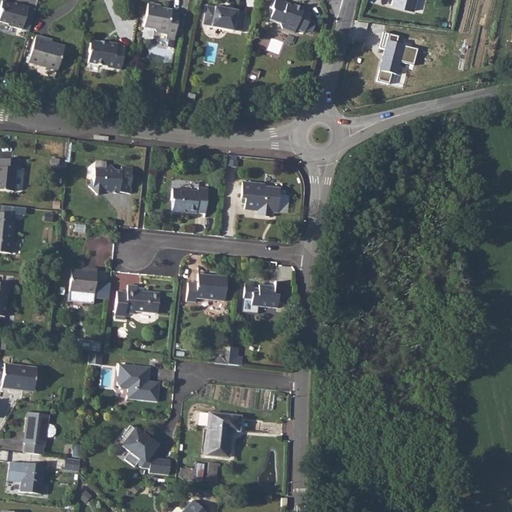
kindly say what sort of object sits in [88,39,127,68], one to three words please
house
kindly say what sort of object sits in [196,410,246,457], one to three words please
house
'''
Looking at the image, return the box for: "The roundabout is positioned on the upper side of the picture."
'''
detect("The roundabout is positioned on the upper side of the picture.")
[292,108,348,162]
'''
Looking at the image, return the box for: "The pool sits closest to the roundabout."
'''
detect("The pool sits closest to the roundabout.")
[205,42,218,64]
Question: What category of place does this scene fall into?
residential area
